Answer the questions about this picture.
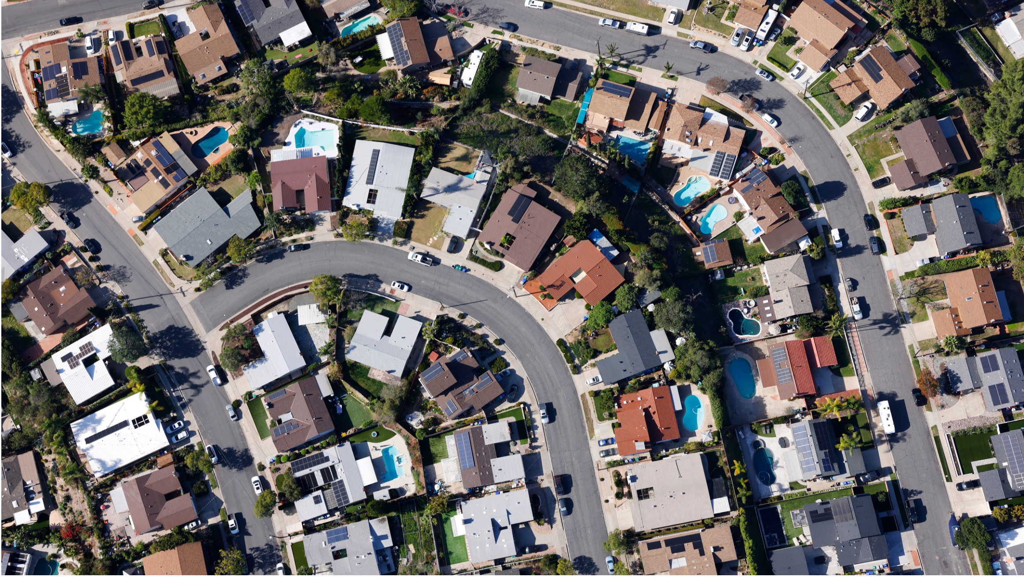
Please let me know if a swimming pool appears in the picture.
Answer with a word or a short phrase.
Yes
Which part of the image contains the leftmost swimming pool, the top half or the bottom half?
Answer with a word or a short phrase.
bottom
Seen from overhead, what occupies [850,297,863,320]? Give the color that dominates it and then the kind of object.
white vehicle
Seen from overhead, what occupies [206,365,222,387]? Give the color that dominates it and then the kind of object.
white vehicle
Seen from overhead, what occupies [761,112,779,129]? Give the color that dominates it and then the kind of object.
white car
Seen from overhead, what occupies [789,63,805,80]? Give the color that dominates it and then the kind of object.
white car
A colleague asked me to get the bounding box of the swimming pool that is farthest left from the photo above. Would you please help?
[31,557,61,577]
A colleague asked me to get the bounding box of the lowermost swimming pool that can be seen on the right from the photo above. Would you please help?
[758,505,787,548]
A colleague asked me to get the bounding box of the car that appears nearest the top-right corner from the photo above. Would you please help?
[854,102,872,121]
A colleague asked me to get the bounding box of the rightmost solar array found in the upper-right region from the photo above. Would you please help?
[859,58,883,83]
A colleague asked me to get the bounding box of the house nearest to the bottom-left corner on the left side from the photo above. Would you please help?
[0,451,50,526]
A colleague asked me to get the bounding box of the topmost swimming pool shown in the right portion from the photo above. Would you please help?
[606,133,651,164]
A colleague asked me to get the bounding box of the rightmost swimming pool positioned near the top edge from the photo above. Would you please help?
[338,14,380,37]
